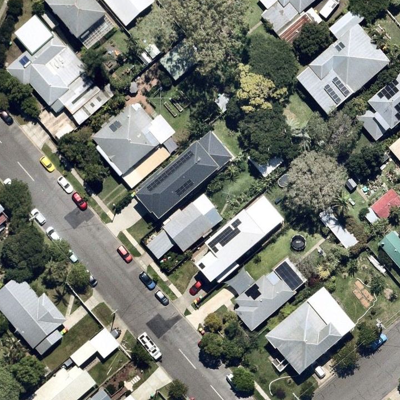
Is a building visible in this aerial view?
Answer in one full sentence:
Yes, a building appears in the view.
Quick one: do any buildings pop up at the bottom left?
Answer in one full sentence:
Yes, a building can be seen at the bottom left.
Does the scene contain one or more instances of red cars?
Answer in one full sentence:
Yes, there's a red car down there.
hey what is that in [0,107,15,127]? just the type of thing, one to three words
car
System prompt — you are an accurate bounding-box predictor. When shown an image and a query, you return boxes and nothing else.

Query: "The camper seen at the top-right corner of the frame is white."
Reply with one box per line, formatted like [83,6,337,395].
[319,0,339,18]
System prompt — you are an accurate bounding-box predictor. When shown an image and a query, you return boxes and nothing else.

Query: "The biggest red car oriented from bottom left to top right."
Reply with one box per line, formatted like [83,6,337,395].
[186,278,206,297]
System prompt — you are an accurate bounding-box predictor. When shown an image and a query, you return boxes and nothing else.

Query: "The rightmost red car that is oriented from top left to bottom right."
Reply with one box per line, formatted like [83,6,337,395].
[117,244,133,263]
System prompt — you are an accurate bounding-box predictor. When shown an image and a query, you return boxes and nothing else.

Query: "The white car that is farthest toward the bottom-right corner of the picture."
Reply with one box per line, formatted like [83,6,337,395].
[312,361,329,381]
